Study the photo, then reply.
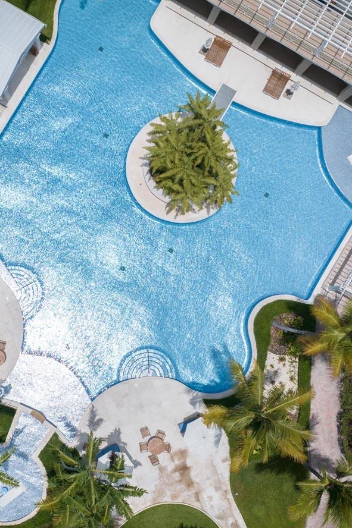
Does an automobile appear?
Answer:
No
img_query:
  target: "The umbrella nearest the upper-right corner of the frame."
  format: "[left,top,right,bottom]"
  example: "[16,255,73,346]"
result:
[283,79,303,98]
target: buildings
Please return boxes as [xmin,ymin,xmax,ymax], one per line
[0,0,46,105]
[164,0,352,112]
